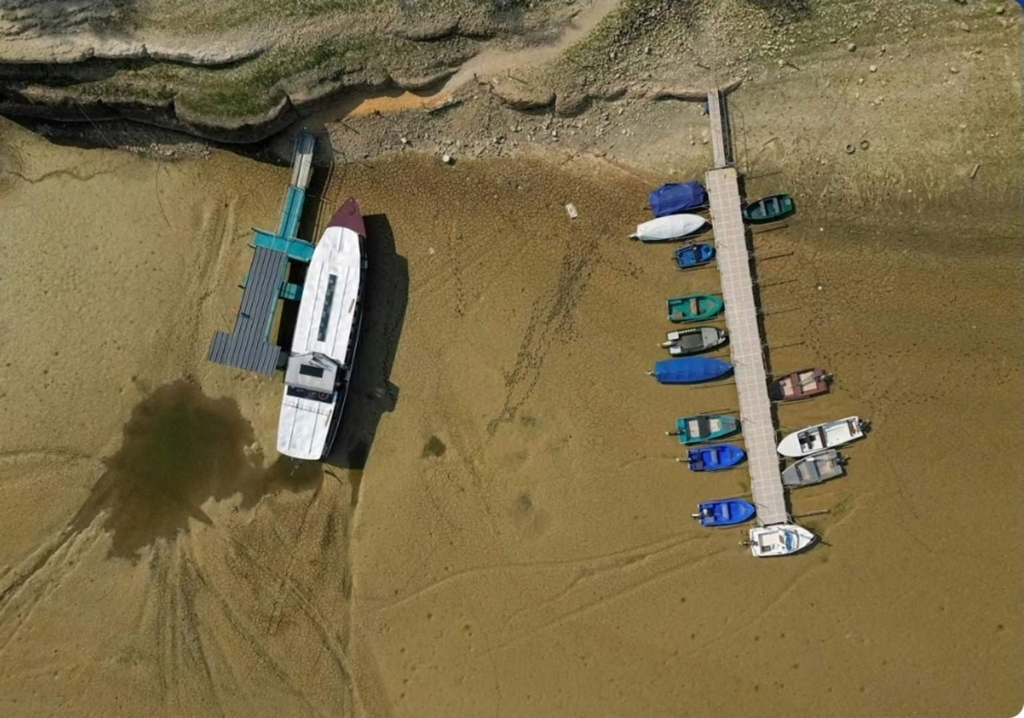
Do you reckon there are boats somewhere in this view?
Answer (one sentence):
Yes, I can see a boat in this picture.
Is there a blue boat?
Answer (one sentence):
Yes, there is a blue boat in the image.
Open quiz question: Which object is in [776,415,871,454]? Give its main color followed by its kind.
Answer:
white boat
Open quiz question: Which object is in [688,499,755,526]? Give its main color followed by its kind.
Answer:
blue boat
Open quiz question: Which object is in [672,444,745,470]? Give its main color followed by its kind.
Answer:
blue boat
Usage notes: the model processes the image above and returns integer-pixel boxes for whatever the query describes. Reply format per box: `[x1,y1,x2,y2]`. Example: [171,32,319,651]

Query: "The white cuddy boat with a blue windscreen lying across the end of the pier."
[737,525,830,556]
